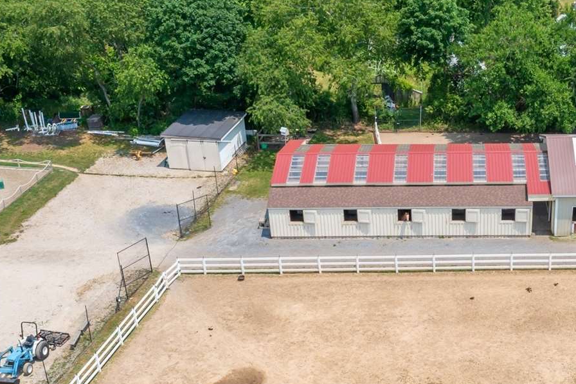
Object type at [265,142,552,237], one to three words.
building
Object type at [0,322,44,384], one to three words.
work vehicle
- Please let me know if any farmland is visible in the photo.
Yes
